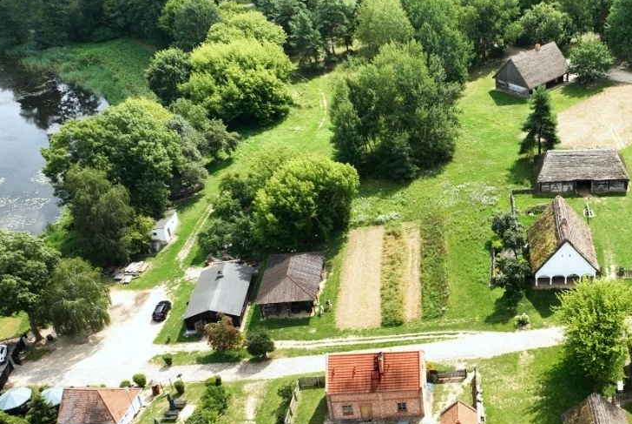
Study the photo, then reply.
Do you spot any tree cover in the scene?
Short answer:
Yes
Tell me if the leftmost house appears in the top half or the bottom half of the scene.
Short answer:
bottom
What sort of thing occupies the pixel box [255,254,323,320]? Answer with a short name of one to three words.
building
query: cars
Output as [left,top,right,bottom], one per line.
[148,300,173,320]
[0,342,13,359]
